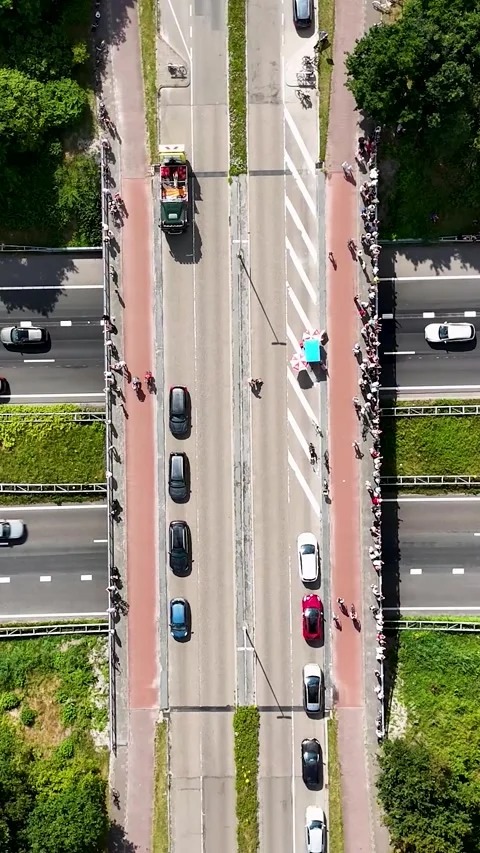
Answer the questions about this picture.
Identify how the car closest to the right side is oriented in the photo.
horizontally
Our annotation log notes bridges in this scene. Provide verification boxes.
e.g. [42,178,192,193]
[104,151,382,711]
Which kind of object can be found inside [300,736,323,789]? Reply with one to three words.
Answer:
car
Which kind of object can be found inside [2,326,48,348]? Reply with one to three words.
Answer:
car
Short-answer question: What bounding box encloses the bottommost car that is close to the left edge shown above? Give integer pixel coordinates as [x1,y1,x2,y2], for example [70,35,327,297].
[0,518,25,541]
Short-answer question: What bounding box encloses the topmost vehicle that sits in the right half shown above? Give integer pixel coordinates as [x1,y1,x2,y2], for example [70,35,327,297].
[292,0,313,29]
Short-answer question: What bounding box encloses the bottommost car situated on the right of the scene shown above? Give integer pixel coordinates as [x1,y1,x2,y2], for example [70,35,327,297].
[304,803,328,853]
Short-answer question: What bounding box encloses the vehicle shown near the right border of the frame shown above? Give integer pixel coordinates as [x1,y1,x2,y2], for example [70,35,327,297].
[425,322,475,346]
